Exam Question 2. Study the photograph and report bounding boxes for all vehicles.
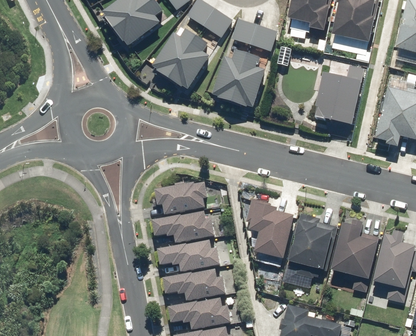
[136,266,142,280]
[118,288,126,302]
[195,129,211,138]
[273,304,286,318]
[288,146,304,154]
[410,176,416,182]
[352,192,366,200]
[372,220,380,236]
[170,324,184,332]
[253,8,262,24]
[390,200,408,210]
[400,139,407,154]
[146,208,160,216]
[40,99,52,113]
[257,168,270,176]
[365,165,381,173]
[164,266,178,274]
[324,208,332,223]
[124,316,132,332]
[364,219,372,234]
